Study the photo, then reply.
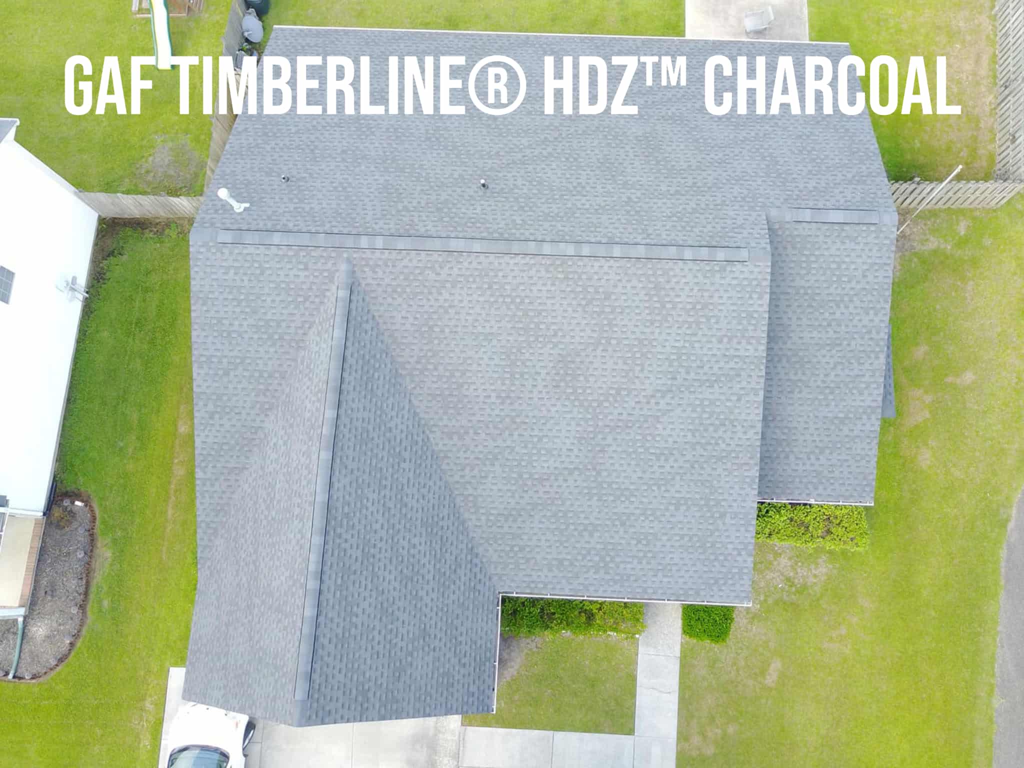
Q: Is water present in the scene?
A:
No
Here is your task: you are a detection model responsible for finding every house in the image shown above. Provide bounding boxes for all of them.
[0,124,101,620]
[181,24,901,727]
